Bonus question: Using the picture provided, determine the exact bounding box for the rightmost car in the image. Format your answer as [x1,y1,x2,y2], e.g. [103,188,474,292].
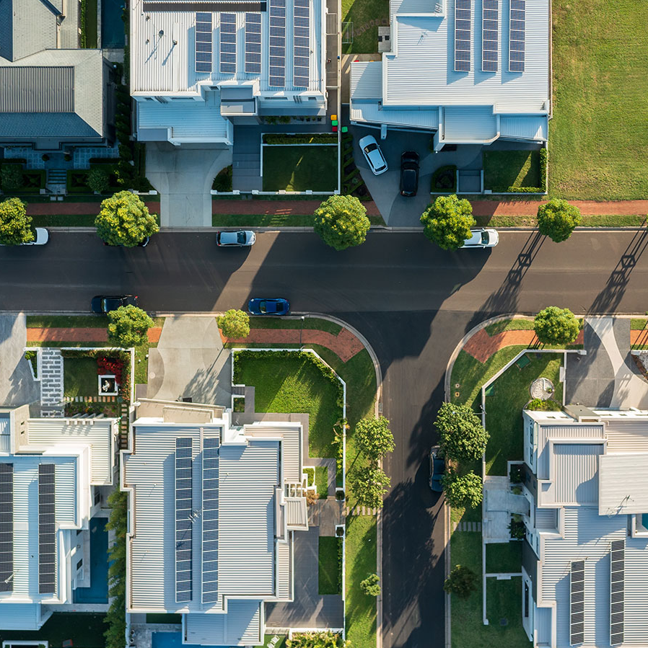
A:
[455,229,498,248]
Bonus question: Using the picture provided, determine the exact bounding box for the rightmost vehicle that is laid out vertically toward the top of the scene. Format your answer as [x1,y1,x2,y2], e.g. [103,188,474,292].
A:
[399,150,419,197]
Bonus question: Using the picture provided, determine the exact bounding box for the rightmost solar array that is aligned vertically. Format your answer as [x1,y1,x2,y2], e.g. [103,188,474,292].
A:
[611,541,624,648]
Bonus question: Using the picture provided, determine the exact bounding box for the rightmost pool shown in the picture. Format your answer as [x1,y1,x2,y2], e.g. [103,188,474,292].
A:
[150,630,246,648]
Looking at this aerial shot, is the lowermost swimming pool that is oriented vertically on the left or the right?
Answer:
left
